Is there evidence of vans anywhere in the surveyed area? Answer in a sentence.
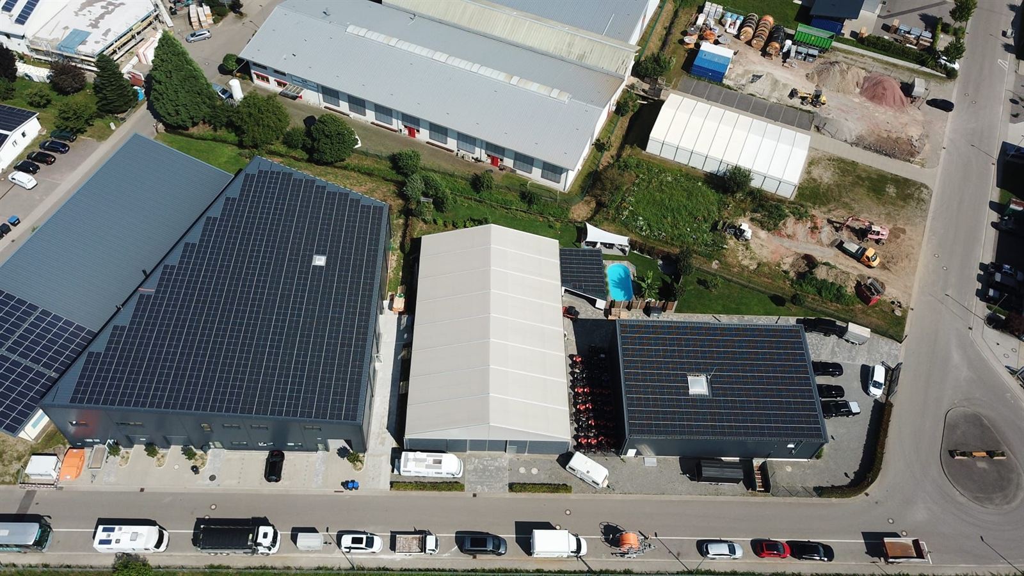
Yes, there's a van here.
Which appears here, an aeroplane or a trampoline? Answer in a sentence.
I can see a trampoline in this picture.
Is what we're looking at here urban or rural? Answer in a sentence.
It looks urban.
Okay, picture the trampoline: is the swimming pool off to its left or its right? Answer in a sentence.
Looking at the picture, you'll find the swimming pool to the left of the trampoline.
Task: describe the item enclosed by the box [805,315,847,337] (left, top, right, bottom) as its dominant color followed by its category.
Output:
black vehicle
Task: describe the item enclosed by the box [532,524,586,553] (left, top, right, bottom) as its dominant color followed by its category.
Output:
white van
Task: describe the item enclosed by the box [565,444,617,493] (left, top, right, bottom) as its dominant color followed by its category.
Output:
white camper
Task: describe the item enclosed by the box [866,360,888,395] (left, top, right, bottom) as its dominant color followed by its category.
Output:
white car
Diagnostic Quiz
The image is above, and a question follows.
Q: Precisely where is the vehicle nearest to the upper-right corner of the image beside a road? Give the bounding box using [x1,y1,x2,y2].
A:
[1006,24,1021,39]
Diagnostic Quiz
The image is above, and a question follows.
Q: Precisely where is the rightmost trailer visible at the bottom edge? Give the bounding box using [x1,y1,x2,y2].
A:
[882,535,935,559]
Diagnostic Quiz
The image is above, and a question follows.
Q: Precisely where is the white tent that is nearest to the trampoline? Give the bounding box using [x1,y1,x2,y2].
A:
[645,94,811,201]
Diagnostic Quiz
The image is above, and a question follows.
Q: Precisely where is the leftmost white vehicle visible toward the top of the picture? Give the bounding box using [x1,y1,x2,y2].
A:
[6,167,37,190]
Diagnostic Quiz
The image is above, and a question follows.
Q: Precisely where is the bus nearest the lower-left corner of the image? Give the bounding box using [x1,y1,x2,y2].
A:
[0,521,54,554]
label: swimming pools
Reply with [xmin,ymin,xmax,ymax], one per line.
[606,260,636,298]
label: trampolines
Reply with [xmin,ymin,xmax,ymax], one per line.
[656,246,685,275]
